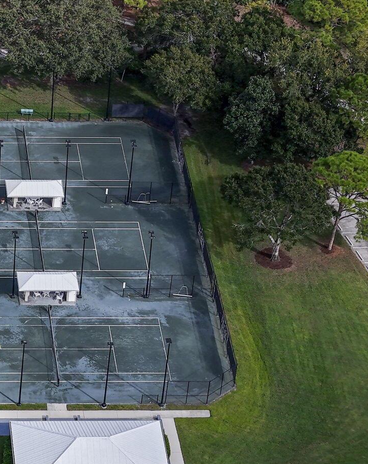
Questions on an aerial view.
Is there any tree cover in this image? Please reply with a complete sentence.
Yes, there's tree cover in this view.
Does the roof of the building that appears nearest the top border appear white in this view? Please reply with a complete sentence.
Yes, the roof of the building that appears nearest the top border appears white.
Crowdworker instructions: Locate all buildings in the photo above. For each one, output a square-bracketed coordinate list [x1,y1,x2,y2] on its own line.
[4,179,64,211]
[16,271,79,306]
[8,419,170,464]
